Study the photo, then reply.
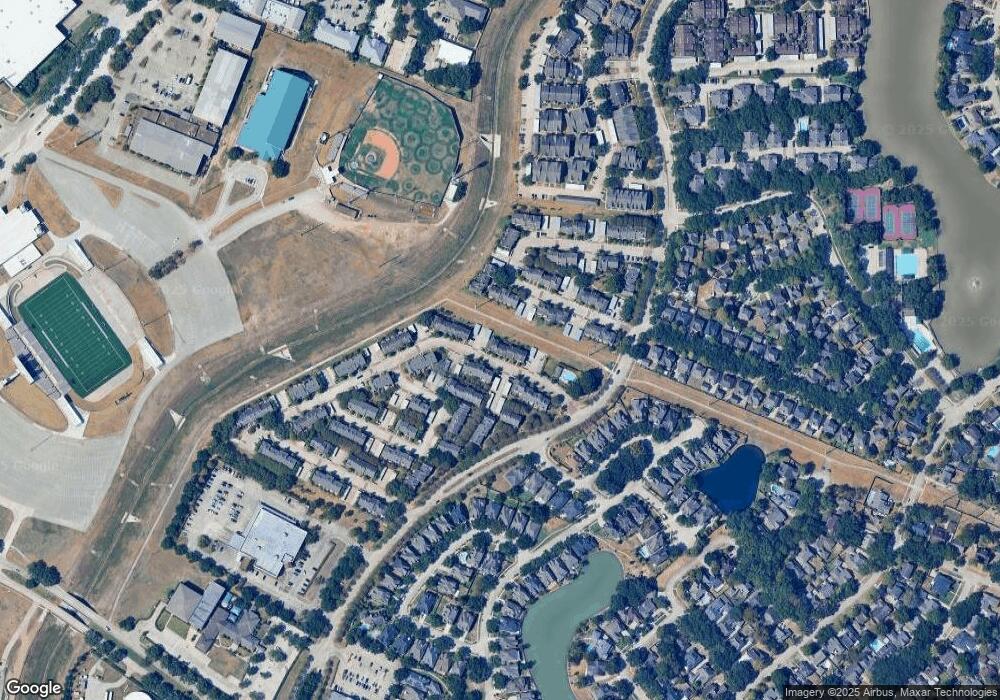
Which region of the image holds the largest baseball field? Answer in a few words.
top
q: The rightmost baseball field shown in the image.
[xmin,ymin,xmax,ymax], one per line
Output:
[338,76,461,206]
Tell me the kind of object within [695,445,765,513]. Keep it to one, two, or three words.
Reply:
pond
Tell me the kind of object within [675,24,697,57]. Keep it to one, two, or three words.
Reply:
building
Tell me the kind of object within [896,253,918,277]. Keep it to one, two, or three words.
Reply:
swimming pool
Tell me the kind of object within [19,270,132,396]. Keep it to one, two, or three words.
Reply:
sports field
